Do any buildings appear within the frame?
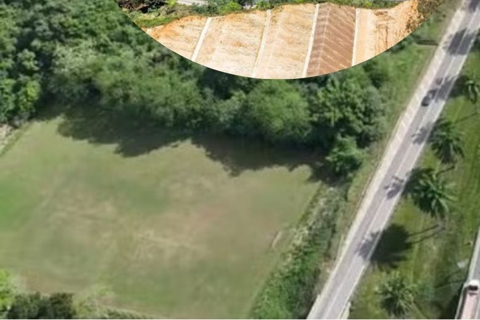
No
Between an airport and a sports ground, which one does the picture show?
sports ground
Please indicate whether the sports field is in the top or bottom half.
bottom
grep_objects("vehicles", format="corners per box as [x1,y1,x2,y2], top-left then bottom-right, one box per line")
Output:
[423,90,435,105]
[460,278,480,320]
